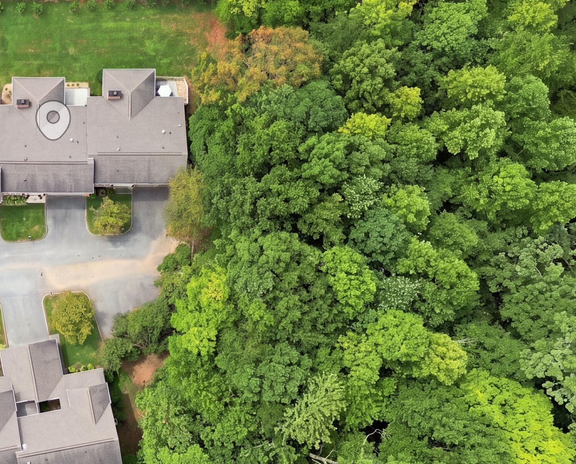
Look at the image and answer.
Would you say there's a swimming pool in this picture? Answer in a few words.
No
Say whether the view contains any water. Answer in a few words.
No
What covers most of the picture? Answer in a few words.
trees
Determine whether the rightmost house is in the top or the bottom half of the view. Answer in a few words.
top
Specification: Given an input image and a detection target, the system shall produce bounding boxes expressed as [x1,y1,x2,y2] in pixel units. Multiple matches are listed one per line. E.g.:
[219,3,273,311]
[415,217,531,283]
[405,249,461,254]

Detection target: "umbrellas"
[158,84,172,97]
